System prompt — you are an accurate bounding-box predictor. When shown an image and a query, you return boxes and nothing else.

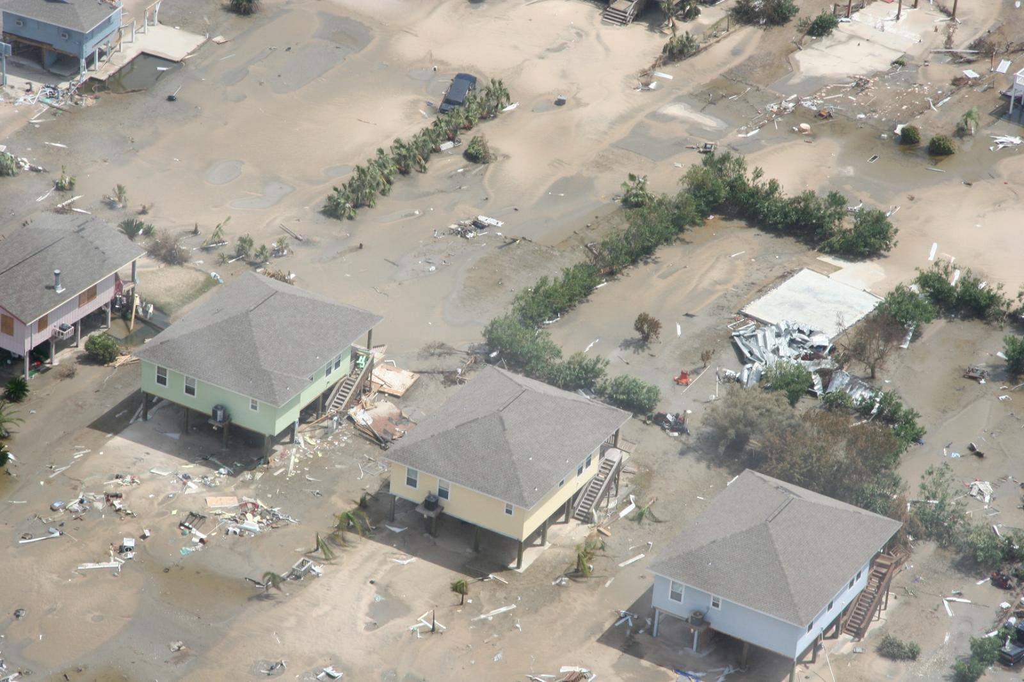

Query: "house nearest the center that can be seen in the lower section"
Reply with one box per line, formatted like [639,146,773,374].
[383,365,635,570]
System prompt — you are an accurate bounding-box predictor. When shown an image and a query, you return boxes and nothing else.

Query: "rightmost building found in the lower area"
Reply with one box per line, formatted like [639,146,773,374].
[645,469,905,682]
